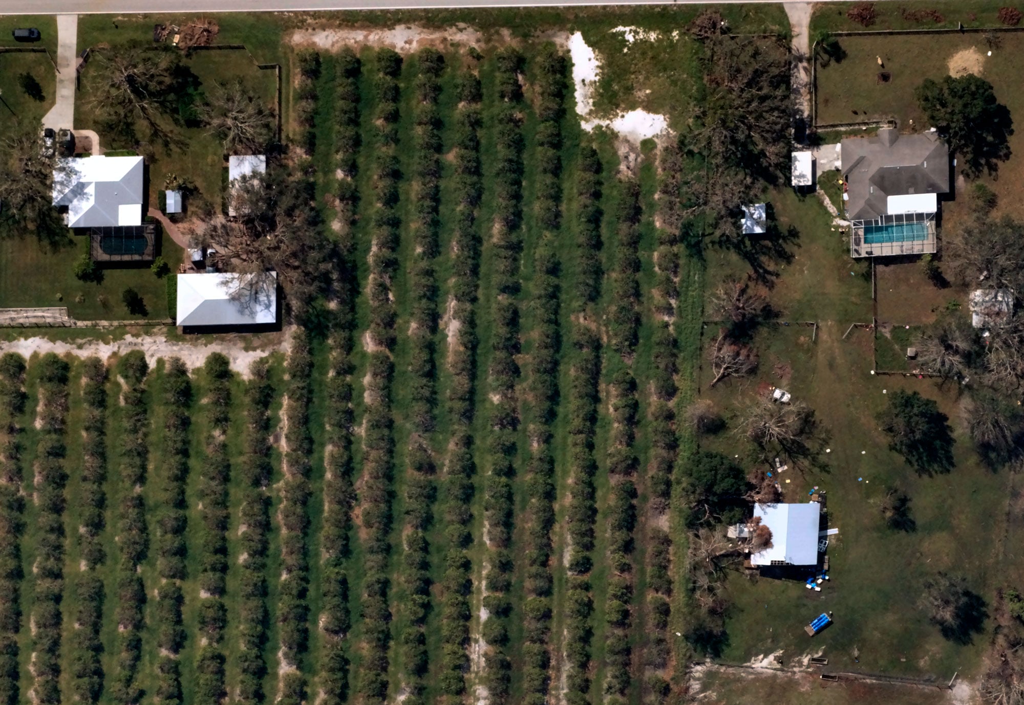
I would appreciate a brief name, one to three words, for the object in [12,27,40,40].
vehicle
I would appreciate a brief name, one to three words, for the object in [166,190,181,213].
shed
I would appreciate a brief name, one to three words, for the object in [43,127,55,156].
vehicle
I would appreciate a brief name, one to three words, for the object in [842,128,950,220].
house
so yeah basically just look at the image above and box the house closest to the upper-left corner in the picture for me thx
[52,155,143,227]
